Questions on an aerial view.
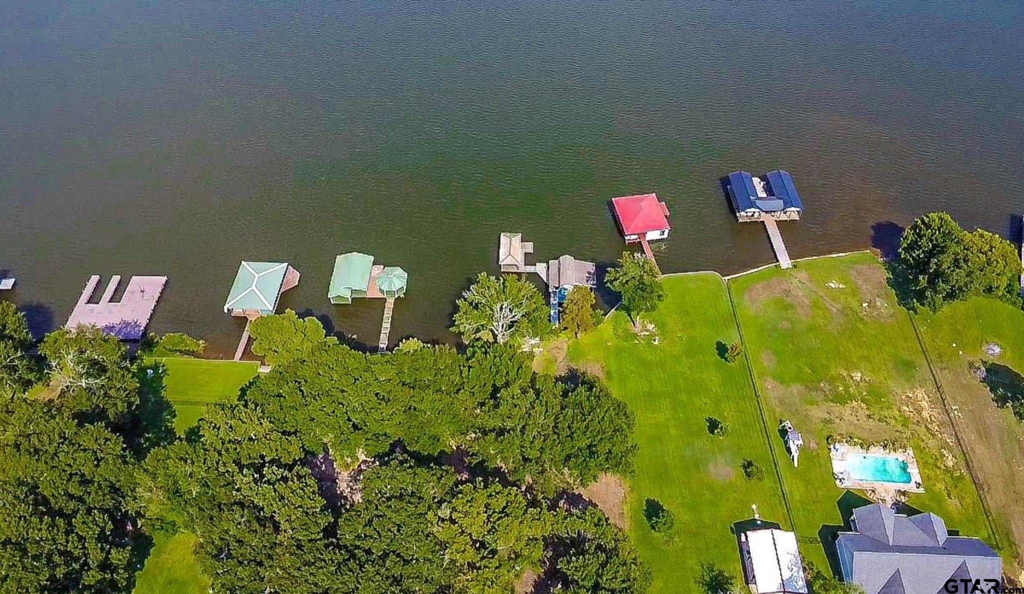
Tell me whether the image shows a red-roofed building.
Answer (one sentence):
Yes, the frame does contain a red-roofed building.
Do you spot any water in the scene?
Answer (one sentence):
Yes, there's water in this view.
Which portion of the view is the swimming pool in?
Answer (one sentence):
You can find the swimming pool in the bottom right area of the picture.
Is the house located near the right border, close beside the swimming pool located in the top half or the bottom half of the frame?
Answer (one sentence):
The bottom half of the photo is where the house located near the right border, close beside the swimming pool is.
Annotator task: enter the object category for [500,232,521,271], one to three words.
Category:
building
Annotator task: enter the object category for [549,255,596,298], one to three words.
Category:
building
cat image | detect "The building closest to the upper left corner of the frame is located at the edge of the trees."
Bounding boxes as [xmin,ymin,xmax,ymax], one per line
[225,260,288,321]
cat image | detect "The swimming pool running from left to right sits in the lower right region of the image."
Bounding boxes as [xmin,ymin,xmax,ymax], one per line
[830,444,924,492]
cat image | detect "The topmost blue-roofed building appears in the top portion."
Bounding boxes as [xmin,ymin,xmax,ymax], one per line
[723,170,803,226]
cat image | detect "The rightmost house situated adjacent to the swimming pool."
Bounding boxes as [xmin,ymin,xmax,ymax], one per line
[835,503,1008,594]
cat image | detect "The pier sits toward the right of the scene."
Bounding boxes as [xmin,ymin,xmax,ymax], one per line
[763,218,791,268]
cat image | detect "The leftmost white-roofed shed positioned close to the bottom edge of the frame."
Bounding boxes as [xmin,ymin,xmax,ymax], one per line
[732,529,806,594]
